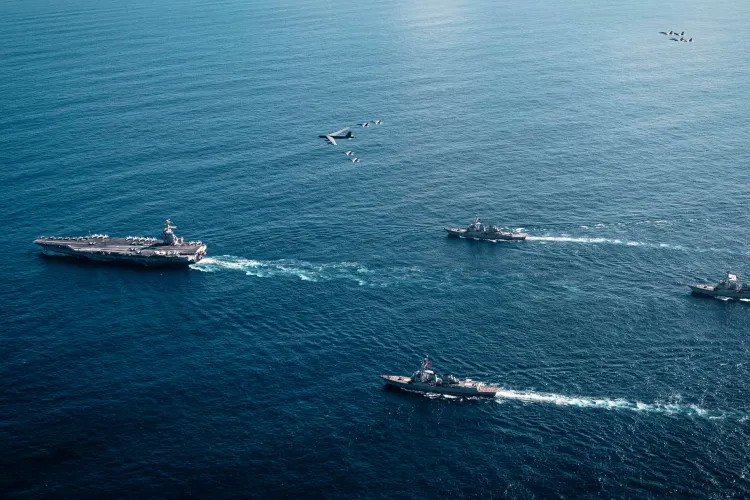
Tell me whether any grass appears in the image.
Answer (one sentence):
No, there is no grass in the image.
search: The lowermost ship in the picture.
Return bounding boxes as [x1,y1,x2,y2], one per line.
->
[381,357,499,398]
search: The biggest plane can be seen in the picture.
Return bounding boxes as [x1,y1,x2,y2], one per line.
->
[319,127,354,145]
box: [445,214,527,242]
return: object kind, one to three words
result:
ship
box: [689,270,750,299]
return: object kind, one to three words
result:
vessel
